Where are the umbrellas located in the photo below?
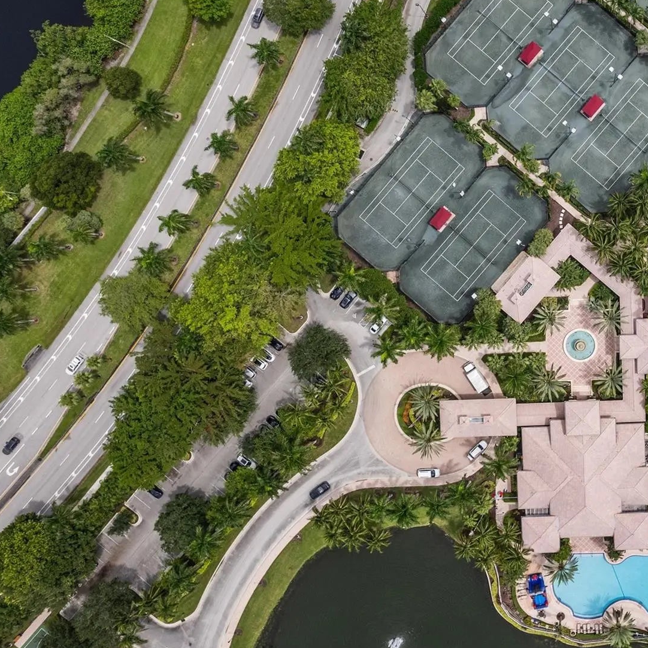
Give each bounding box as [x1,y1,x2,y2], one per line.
[537,610,546,619]
[556,611,565,620]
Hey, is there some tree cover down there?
Yes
